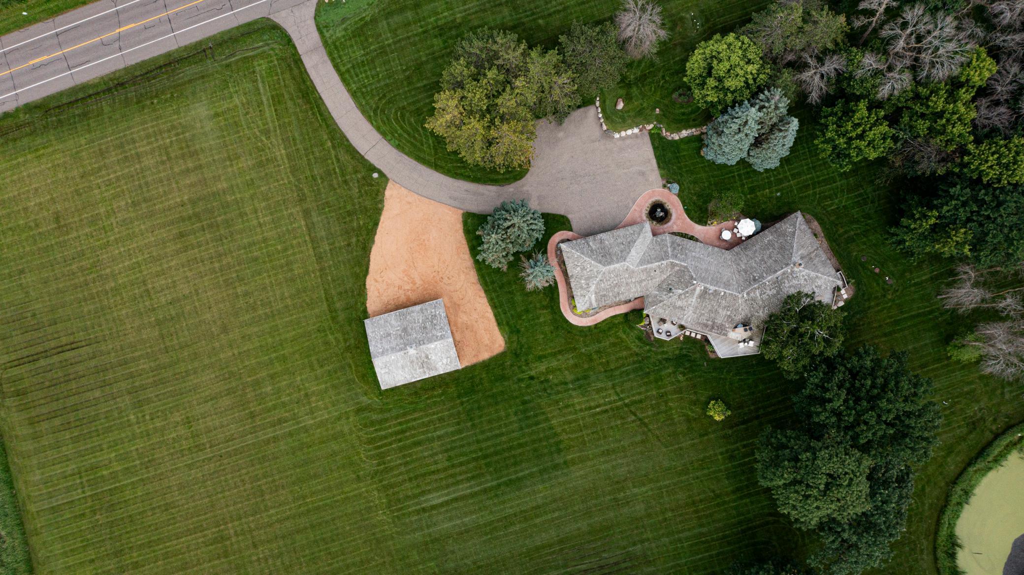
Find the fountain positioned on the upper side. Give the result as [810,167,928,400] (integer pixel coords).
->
[643,197,674,227]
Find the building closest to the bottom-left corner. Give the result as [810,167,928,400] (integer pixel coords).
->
[364,299,461,389]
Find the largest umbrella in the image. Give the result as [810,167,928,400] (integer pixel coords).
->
[737,219,755,236]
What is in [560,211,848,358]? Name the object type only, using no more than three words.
house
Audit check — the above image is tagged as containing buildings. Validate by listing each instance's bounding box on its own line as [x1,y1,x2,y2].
[364,299,461,389]
[560,211,848,358]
